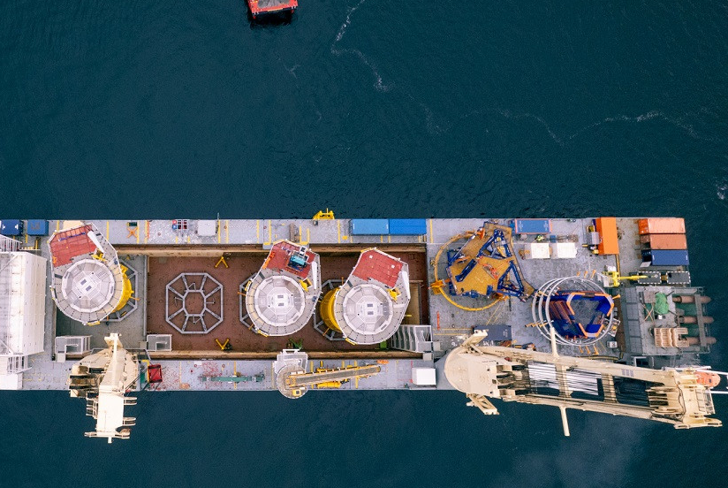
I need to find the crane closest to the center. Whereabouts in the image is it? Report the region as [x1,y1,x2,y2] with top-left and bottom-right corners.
[273,349,380,400]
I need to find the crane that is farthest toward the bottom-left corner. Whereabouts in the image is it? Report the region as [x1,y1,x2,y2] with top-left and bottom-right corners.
[67,332,145,443]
